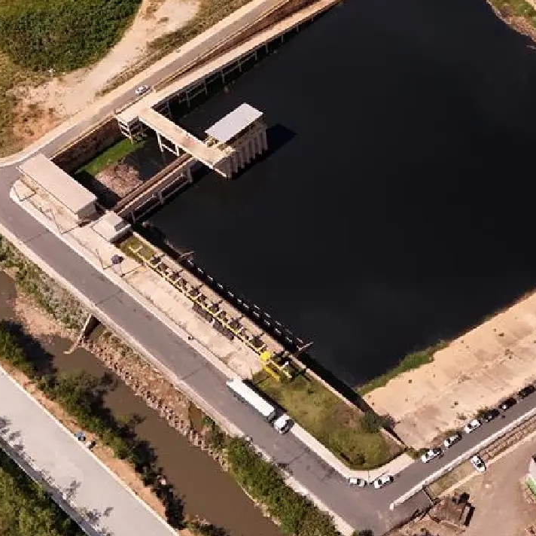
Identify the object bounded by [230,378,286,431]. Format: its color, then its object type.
white truck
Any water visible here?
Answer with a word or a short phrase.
Yes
